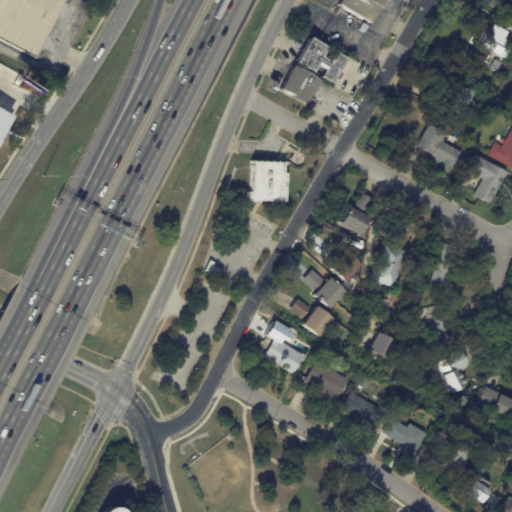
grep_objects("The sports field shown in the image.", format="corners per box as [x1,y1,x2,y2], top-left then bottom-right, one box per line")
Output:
[178,437,258,512]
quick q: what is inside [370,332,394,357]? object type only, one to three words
house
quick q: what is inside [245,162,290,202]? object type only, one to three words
building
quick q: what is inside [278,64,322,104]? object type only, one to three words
building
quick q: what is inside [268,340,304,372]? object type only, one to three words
house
